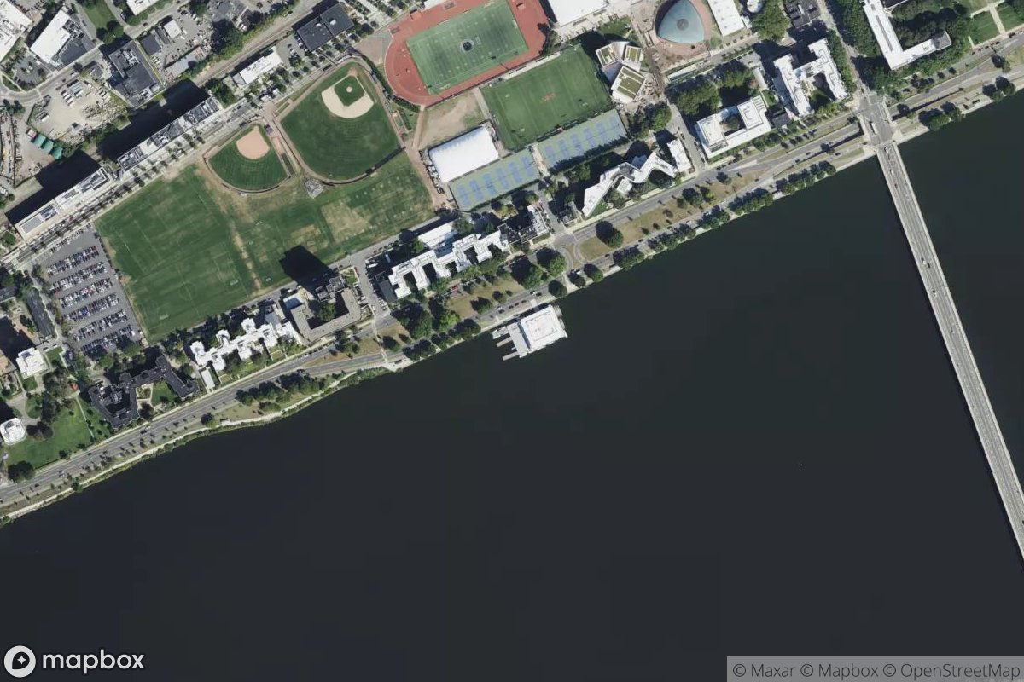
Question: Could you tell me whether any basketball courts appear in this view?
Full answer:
No, the frame has no basketball court in it.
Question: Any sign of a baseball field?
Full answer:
Yes, looking at the shot, I can spot a baseball field.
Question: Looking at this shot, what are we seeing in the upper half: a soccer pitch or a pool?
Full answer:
It is a soccer pitch that can be seen in the upper half.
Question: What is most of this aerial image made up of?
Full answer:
Most of the picture is covered by water.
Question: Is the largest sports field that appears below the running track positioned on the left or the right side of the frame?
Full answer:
The largest sports field that appears below the running track is on the left side of the image.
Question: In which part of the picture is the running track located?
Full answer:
The running track is in the top part of the image.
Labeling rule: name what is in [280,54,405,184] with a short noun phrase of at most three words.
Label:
baseball field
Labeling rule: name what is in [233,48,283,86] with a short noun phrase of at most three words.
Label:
building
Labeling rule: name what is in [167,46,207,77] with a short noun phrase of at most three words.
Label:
shed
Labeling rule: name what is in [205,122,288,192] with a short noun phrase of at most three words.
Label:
baseball field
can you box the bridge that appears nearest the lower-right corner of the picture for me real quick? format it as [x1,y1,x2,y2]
[877,145,1024,558]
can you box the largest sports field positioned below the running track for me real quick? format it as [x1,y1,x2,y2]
[89,151,435,340]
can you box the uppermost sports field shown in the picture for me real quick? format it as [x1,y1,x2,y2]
[406,0,528,94]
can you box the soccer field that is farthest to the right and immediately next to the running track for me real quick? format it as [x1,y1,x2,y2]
[482,41,611,151]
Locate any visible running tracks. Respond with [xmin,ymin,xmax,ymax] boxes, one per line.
[387,0,546,102]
